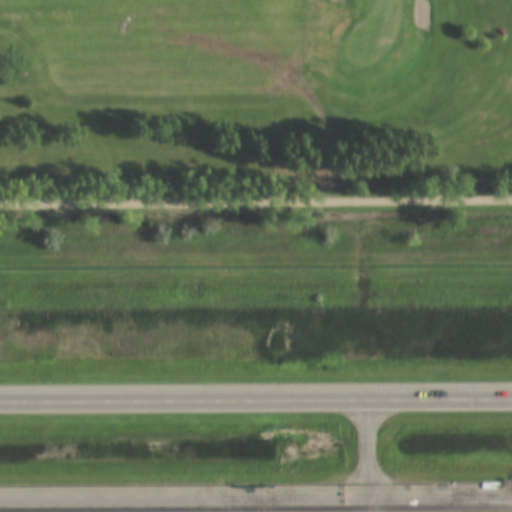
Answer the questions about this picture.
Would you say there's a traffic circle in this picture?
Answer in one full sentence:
No, the picture doesn't show any traffic circle.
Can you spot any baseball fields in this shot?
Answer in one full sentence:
No, I can't see a single baseball field in this photo.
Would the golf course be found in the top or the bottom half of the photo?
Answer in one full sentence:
The golf course is in the top half of the image.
